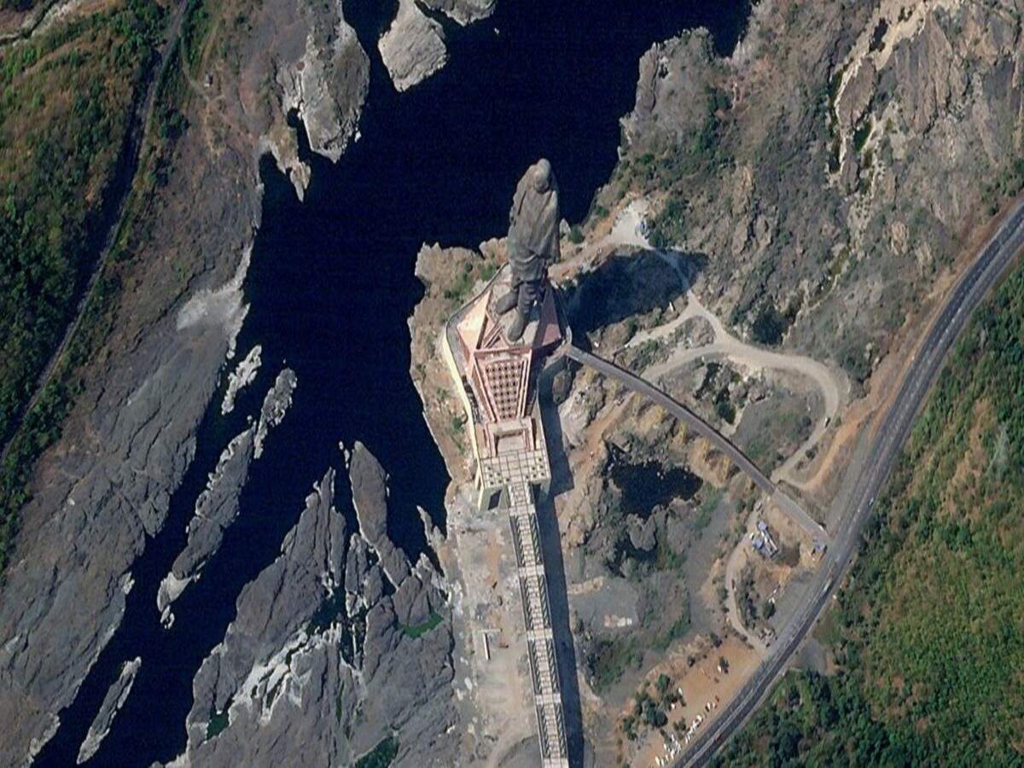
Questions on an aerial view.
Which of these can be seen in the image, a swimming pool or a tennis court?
swimming pool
